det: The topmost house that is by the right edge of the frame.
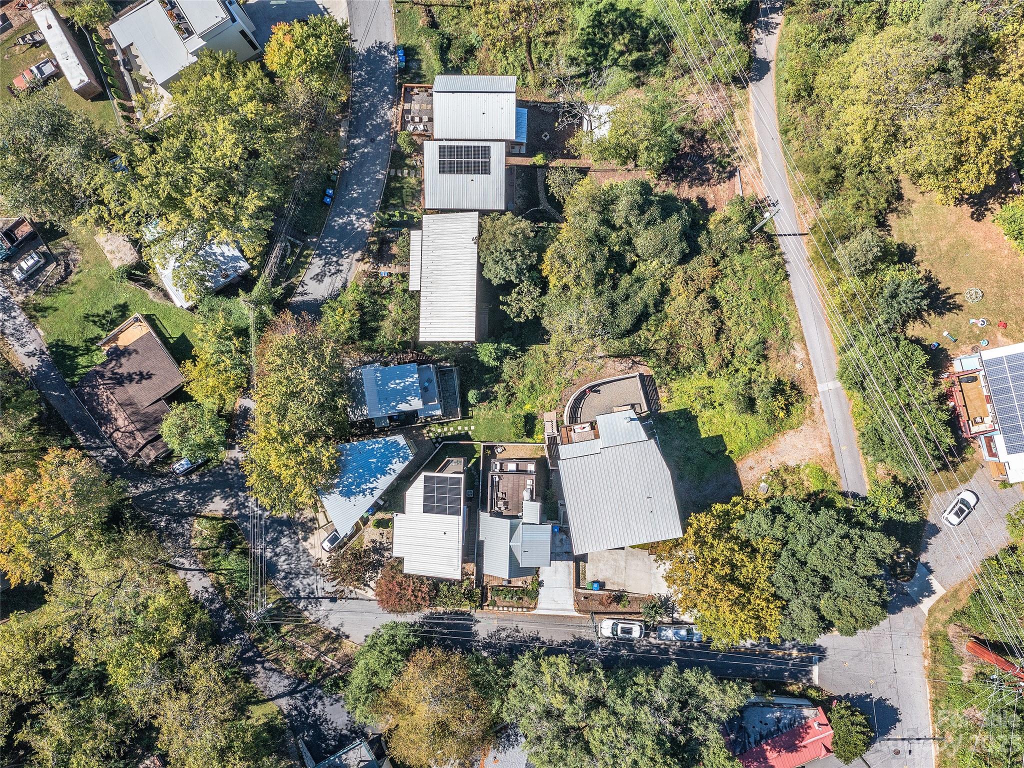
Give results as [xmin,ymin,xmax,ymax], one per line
[918,341,1024,483]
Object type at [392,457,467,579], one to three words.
house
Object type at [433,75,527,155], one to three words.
house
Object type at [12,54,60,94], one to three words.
truck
